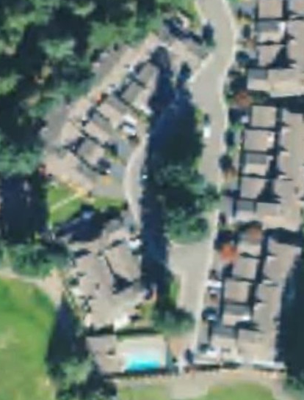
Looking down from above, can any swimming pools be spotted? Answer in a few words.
Yes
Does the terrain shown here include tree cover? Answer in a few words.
Yes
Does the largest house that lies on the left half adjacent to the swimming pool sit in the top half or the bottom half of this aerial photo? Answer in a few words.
bottom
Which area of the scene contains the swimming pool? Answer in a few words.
bottom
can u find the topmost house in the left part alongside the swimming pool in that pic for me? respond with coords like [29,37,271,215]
[68,225,147,330]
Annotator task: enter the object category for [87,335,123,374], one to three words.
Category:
building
